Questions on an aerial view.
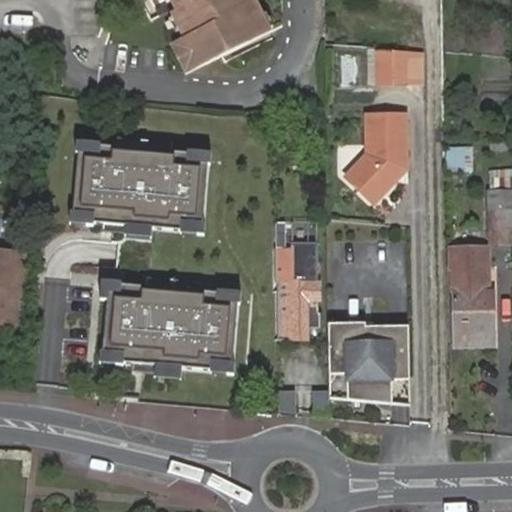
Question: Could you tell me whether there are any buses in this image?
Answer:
Yes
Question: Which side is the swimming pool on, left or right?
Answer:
right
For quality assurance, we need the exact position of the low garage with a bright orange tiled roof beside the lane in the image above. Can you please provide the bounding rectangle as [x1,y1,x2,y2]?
[376,50,424,87]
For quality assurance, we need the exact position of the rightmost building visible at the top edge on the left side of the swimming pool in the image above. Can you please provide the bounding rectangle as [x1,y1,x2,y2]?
[157,0,282,76]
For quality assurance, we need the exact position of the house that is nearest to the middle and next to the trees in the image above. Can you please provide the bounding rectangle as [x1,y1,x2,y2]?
[276,222,322,342]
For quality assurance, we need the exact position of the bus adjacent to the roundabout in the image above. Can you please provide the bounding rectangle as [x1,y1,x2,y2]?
[168,460,255,506]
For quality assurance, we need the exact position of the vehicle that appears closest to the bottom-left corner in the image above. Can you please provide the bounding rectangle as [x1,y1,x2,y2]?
[90,460,115,472]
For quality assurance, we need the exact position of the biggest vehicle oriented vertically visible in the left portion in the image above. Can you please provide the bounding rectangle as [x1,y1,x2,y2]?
[115,44,128,74]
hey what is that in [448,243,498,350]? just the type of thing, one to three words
house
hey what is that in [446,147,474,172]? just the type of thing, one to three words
shed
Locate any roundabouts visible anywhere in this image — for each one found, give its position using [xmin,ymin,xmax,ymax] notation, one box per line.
[261,458,319,512]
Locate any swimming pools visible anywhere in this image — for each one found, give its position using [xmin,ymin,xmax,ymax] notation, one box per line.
[340,54,360,88]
